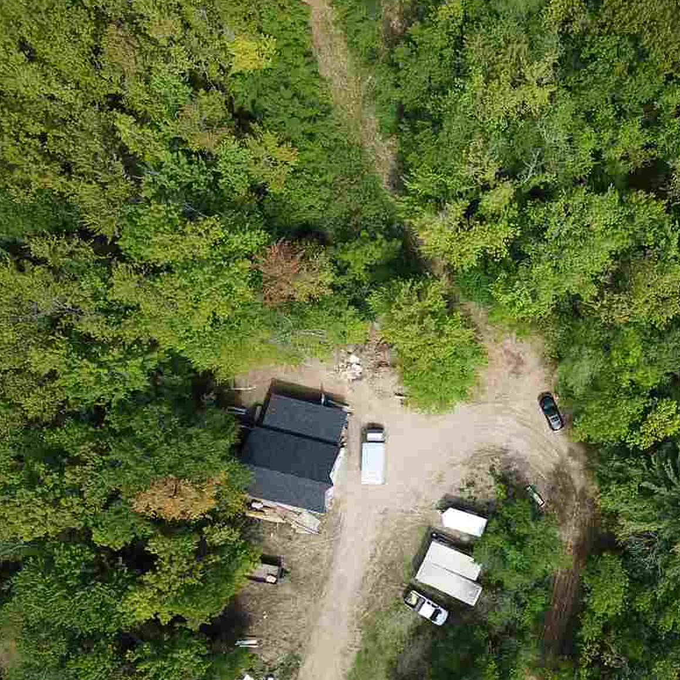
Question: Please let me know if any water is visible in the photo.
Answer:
No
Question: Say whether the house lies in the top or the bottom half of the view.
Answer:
bottom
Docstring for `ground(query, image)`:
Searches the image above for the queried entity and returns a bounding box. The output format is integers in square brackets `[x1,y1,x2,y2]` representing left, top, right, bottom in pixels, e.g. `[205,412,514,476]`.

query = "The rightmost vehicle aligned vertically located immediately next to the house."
[362,426,388,485]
